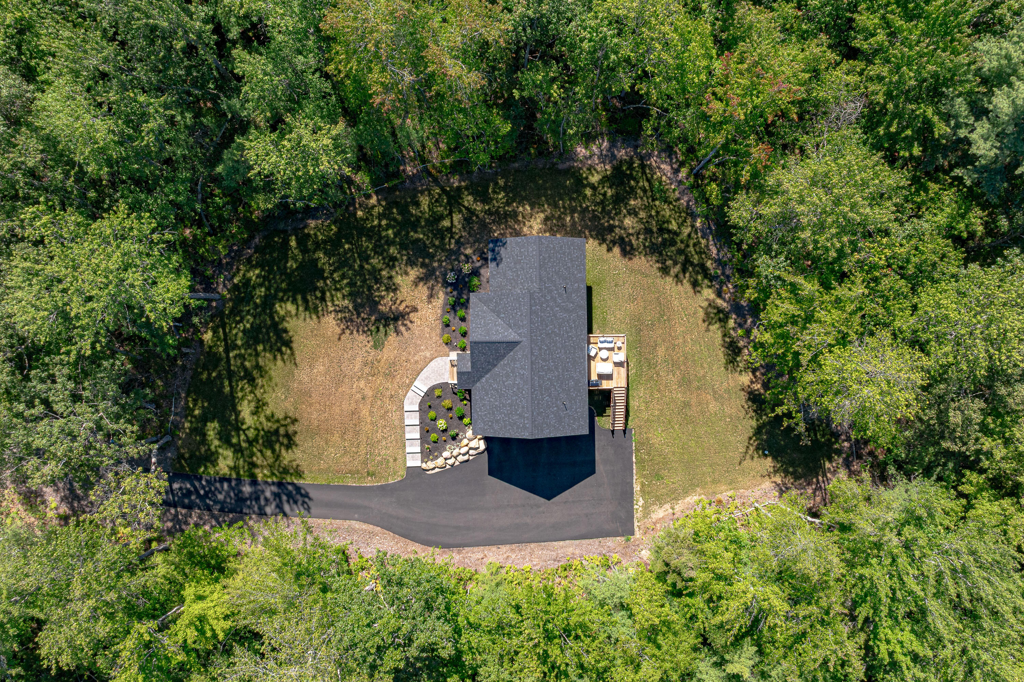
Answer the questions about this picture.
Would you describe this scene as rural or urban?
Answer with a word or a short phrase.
rural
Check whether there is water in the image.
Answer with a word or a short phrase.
No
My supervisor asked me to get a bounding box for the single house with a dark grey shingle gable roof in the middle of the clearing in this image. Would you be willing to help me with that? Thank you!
[447,235,589,439]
